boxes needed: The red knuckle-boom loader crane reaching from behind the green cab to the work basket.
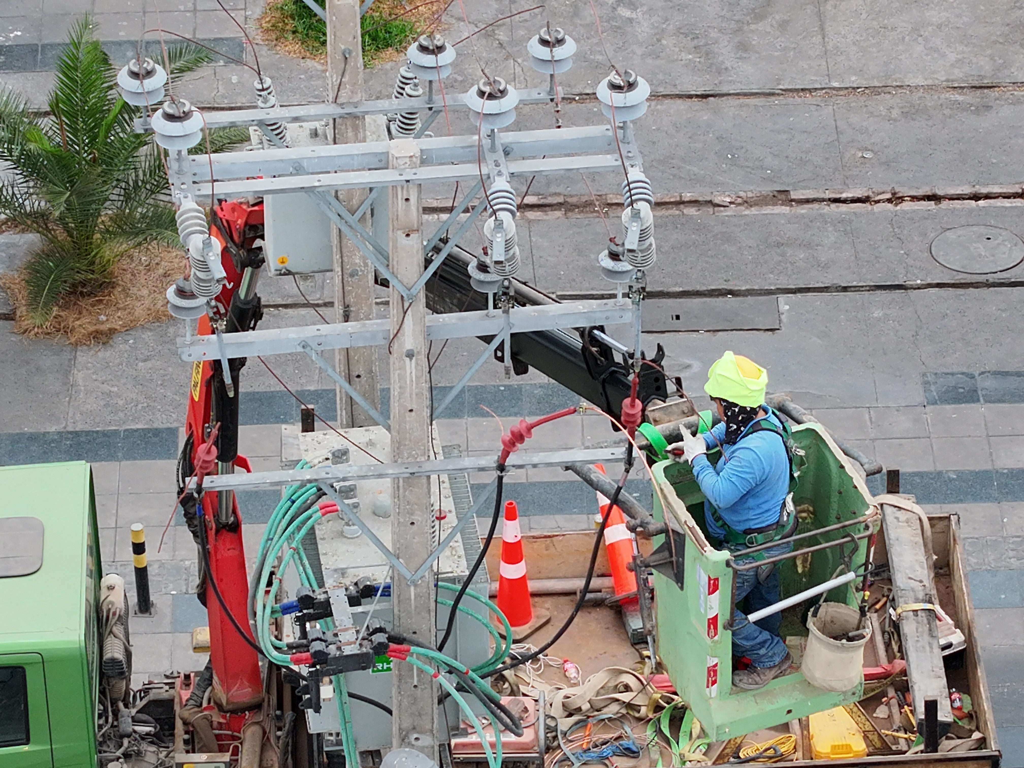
[178,172,692,768]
